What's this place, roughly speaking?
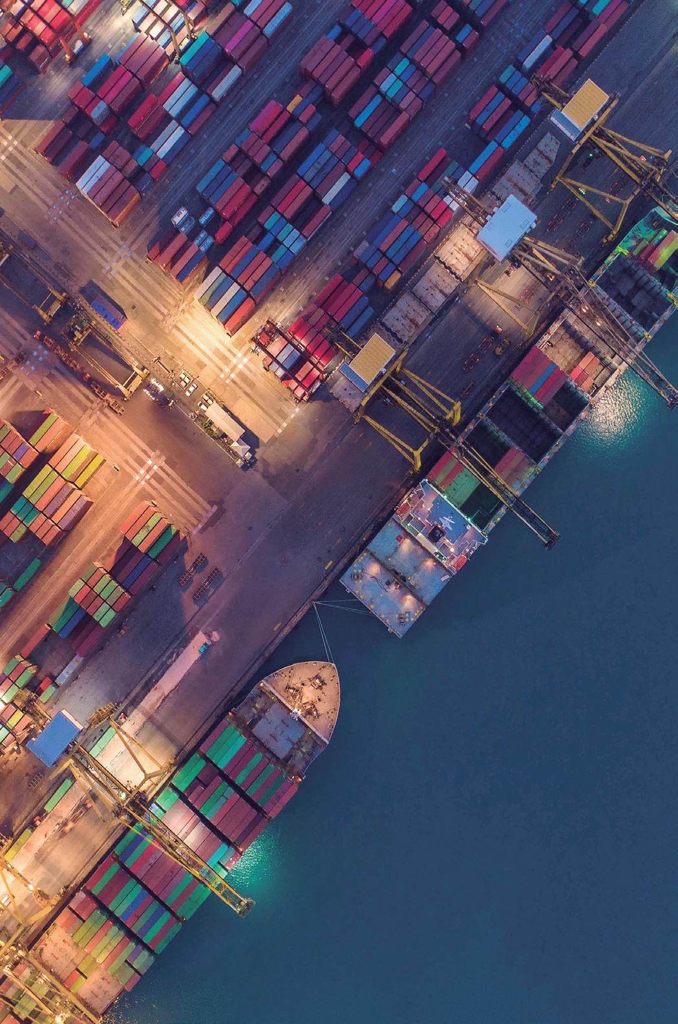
port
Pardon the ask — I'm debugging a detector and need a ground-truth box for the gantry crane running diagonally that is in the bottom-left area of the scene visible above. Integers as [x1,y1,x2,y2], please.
[8,693,250,929]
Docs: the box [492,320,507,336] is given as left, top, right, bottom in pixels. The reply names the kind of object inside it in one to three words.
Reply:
vehicle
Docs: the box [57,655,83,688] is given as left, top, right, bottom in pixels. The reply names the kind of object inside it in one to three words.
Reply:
shipping container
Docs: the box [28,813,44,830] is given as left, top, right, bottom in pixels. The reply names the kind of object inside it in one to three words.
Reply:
vehicle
